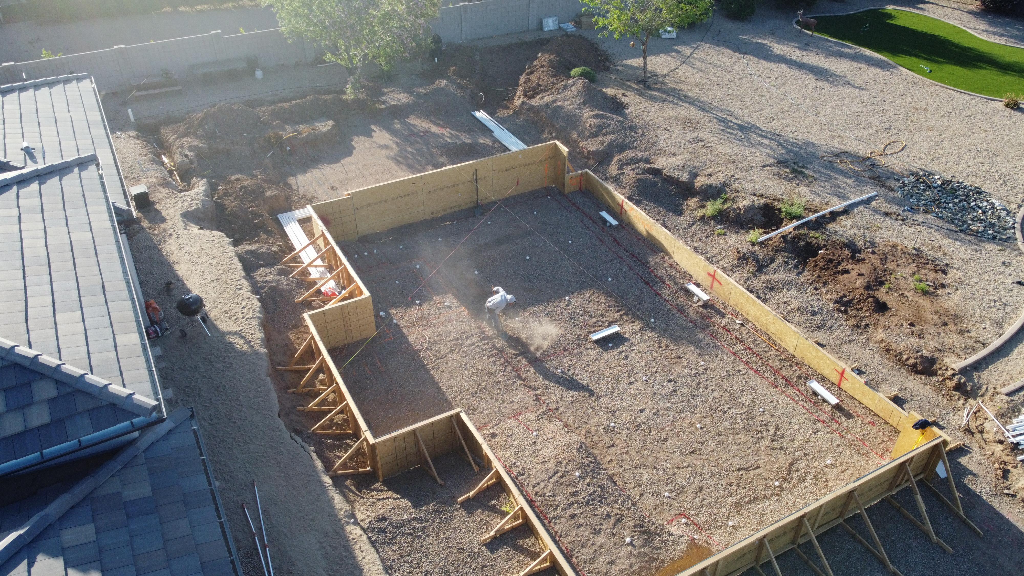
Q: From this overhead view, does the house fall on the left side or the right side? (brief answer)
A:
left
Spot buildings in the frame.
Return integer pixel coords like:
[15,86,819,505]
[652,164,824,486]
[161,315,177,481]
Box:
[0,70,250,576]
